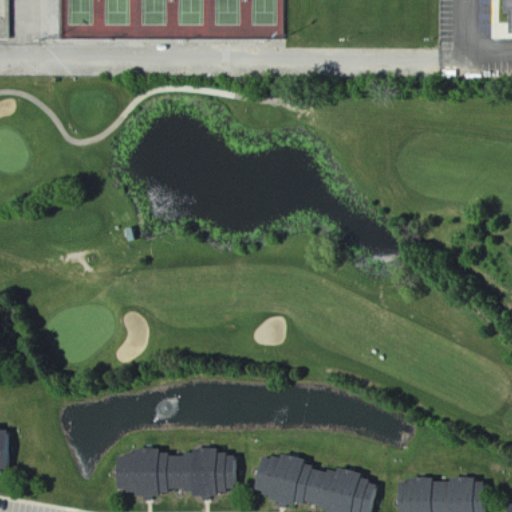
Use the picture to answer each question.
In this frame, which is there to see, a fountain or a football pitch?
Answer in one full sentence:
There is a fountain in the scene.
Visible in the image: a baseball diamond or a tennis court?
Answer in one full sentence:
The one in the frame is a tennis court.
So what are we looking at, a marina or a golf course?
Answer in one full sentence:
It's a golf course.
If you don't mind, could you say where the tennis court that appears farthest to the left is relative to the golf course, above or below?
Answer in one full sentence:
In the image, the tennis court that appears farthest to the left sits above the golf course.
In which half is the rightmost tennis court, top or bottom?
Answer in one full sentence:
Seen from above, the rightmost tennis court lies in the top half of the view.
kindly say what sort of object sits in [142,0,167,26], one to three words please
tennis court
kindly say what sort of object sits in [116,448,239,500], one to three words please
house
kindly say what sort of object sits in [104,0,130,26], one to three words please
tennis court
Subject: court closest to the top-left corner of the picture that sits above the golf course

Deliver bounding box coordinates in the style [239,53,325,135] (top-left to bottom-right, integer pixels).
[68,0,94,26]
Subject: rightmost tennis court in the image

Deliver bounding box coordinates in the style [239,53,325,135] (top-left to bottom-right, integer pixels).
[252,0,277,26]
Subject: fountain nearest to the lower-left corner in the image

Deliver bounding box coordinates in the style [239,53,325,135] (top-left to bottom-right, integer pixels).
[154,396,180,422]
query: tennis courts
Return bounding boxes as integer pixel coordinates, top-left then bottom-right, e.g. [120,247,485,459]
[142,0,167,26]
[252,0,277,26]
[214,0,240,26]
[104,0,130,26]
[68,0,94,26]
[178,0,204,26]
